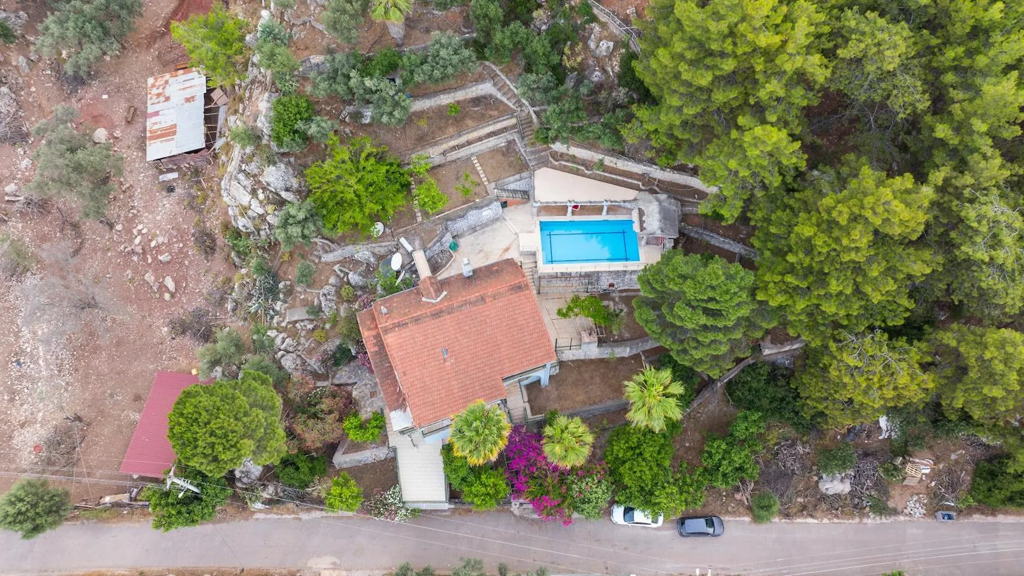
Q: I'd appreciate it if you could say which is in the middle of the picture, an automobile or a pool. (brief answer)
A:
pool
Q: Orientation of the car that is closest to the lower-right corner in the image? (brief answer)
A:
horizontally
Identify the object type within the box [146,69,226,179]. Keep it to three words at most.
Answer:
shed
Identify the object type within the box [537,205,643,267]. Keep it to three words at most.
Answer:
swimming pool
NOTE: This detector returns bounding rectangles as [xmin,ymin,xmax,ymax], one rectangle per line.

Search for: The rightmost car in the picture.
[676,514,724,538]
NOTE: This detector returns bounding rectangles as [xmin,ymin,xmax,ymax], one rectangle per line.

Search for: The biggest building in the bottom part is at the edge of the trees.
[359,257,555,450]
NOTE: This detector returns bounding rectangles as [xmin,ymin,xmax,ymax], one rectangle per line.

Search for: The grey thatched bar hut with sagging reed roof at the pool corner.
[639,195,684,254]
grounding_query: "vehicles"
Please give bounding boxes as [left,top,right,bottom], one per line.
[611,503,662,528]
[676,514,724,538]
